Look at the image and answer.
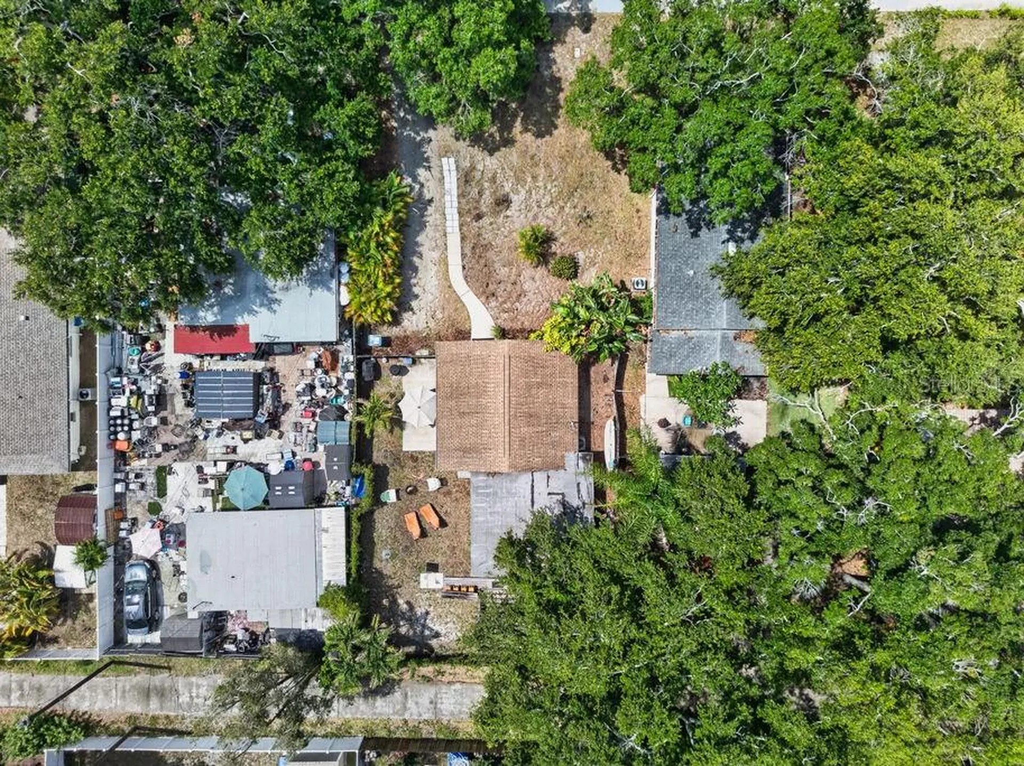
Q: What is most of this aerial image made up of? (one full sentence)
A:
The scene is dominated by trees.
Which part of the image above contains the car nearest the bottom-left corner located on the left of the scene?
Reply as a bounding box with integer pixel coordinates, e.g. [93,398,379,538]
[115,562,156,635]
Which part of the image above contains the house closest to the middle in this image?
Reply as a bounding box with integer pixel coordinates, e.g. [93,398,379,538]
[434,341,580,473]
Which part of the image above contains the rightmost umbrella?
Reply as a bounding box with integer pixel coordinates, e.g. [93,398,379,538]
[399,386,434,428]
